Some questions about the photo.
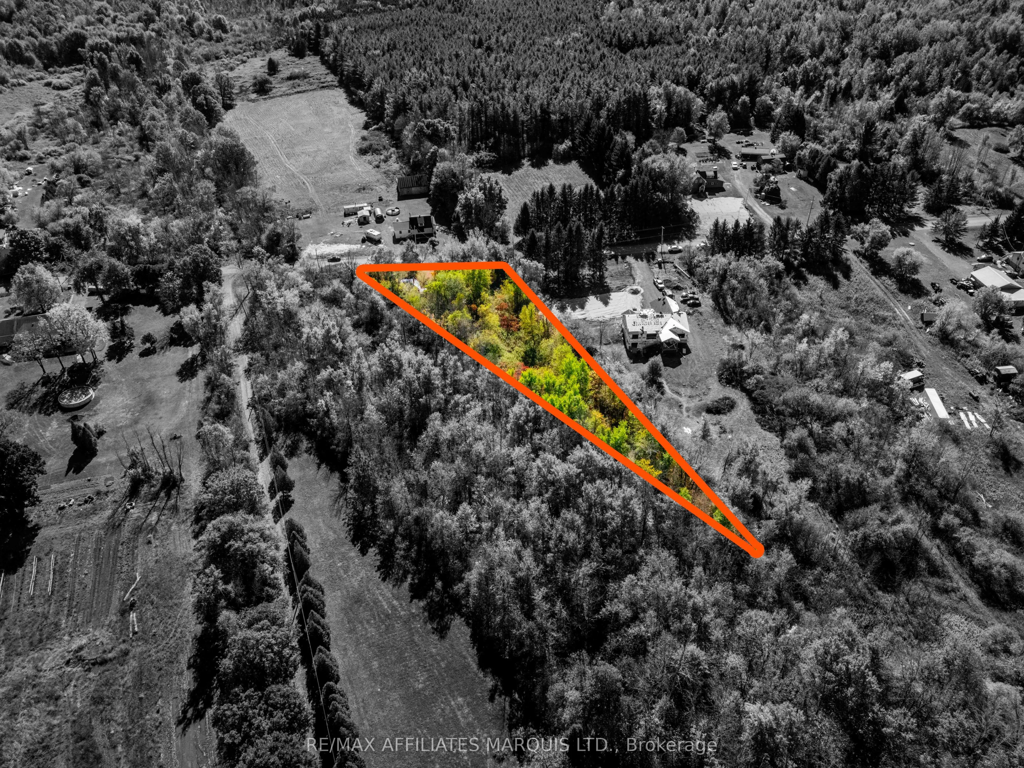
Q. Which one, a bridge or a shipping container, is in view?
shipping container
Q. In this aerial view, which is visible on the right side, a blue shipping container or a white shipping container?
white shipping container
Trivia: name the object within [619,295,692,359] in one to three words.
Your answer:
house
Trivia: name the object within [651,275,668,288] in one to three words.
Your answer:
vehicle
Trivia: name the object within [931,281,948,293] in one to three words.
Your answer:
vehicle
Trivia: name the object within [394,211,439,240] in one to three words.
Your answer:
house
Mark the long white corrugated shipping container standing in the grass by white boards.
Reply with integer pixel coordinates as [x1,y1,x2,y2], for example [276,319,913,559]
[922,388,951,428]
